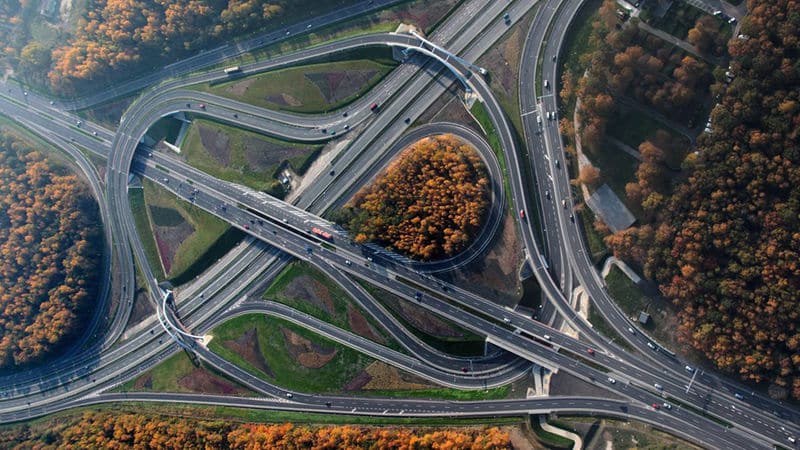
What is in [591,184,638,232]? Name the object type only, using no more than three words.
building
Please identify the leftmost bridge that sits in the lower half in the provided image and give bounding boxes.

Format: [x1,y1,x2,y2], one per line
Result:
[152,292,212,359]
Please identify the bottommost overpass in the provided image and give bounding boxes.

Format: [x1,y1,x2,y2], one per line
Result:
[522,394,555,415]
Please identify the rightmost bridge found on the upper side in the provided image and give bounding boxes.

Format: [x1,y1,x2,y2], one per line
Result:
[388,28,488,95]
